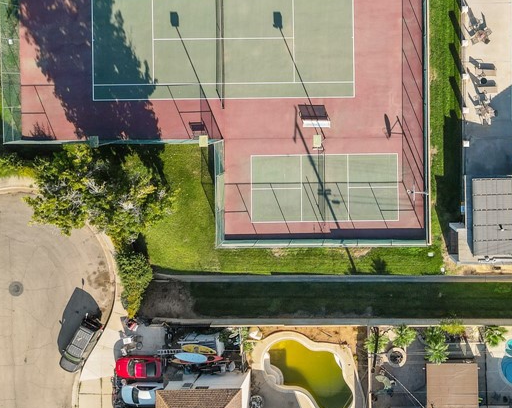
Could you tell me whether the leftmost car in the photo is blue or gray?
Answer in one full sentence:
The color of the leftmost car is gray.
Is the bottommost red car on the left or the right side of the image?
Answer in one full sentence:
The bottommost red car sits on the left side.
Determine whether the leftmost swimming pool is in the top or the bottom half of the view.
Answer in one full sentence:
It is in the bottom half that the leftmost swimming pool appears.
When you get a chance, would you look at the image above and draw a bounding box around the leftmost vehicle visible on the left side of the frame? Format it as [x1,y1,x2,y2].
[65,308,106,371]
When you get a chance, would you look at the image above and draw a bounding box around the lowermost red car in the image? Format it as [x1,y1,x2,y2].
[115,355,165,382]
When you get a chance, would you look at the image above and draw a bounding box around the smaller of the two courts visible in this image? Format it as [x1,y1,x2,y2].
[250,151,399,228]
